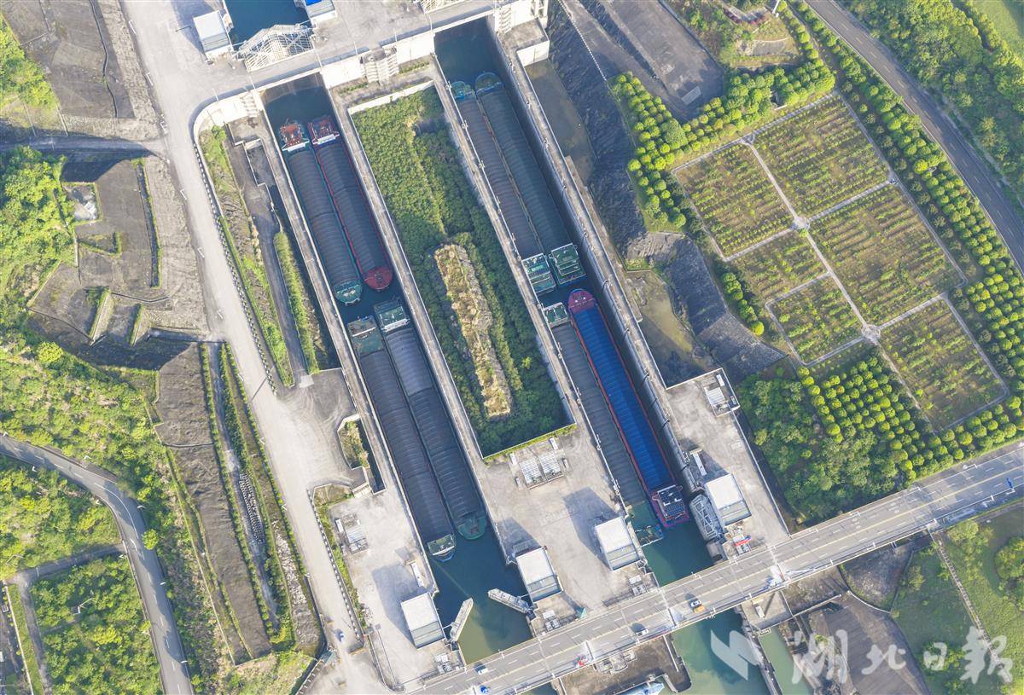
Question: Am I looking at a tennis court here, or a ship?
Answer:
ship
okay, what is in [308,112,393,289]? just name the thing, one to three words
ship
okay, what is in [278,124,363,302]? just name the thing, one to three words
ship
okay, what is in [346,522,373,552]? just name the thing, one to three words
building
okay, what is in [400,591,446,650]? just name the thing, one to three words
building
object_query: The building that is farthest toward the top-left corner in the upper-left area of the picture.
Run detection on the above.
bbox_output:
[188,0,231,51]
